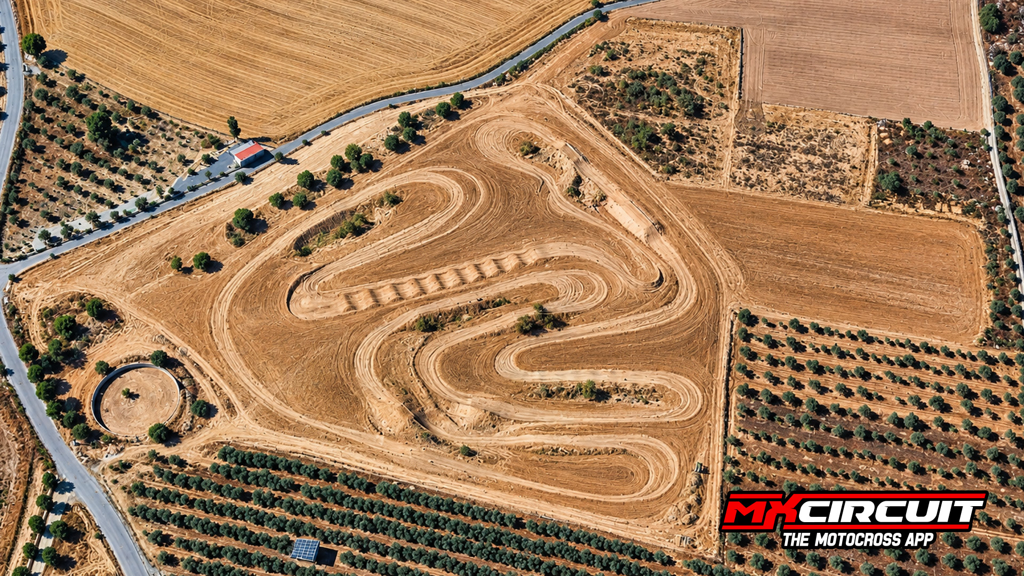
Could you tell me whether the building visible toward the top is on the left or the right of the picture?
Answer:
left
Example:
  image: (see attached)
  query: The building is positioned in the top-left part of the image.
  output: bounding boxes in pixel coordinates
[230,138,266,168]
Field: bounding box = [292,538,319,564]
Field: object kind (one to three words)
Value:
solar array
